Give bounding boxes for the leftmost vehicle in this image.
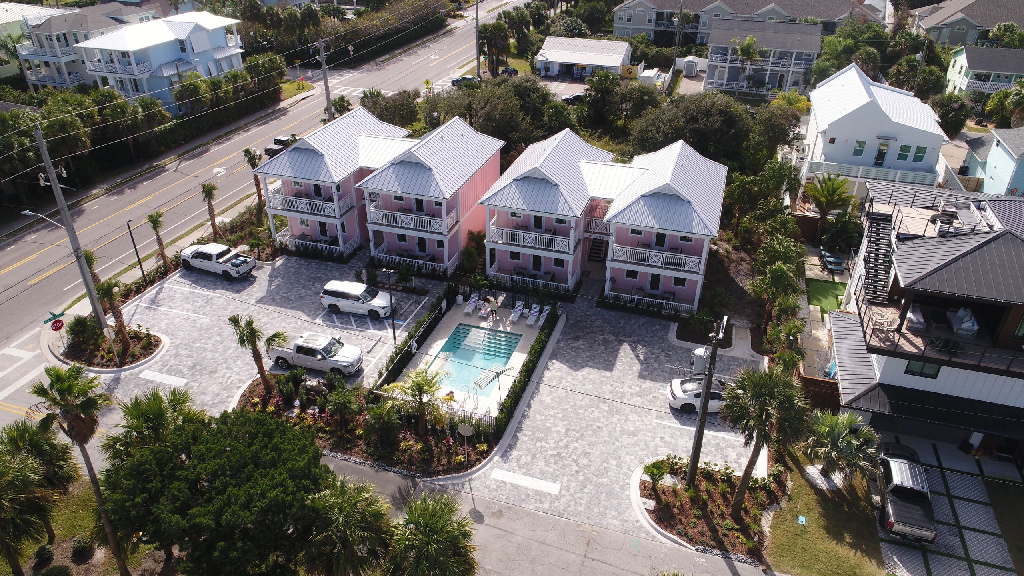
[174,240,257,279]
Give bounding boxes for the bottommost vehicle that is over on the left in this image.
[268,330,371,382]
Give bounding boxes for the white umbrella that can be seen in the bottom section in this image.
[479,367,519,406]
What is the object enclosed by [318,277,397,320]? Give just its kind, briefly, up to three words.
car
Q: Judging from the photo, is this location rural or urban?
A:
urban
